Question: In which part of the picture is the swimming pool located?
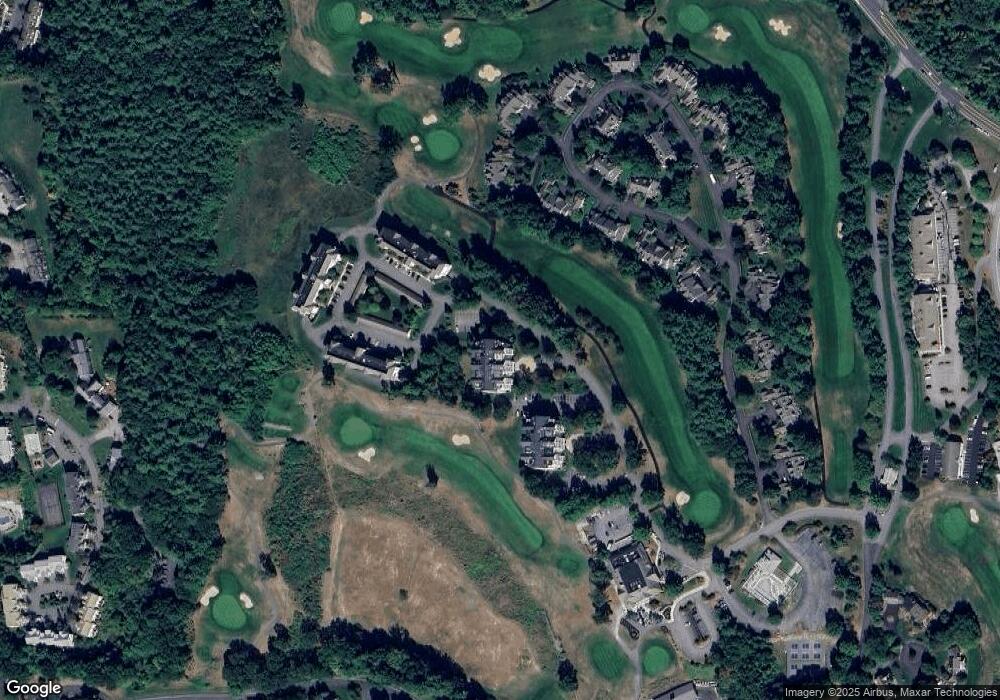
bottom left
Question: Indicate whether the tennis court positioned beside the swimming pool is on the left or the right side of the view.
left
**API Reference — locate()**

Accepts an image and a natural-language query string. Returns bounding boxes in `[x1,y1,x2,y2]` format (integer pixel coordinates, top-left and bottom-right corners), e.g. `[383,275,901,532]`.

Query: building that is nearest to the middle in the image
[469,338,513,394]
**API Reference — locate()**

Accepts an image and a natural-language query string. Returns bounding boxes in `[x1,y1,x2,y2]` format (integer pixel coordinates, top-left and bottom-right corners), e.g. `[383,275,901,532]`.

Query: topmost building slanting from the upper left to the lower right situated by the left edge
[0,168,30,211]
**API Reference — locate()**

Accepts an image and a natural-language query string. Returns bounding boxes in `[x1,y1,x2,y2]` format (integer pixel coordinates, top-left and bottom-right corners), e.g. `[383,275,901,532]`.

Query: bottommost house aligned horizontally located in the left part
[23,629,77,648]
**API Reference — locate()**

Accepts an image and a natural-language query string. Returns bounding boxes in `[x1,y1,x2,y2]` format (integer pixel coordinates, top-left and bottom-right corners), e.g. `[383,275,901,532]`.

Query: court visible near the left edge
[37,482,62,526]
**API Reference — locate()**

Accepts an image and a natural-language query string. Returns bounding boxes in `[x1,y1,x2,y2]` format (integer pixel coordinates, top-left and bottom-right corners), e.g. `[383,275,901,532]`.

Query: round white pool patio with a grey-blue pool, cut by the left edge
[0,499,22,536]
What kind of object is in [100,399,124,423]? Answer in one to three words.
barn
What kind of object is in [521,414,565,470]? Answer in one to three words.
building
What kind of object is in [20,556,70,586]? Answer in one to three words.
house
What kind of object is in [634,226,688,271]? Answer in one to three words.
house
